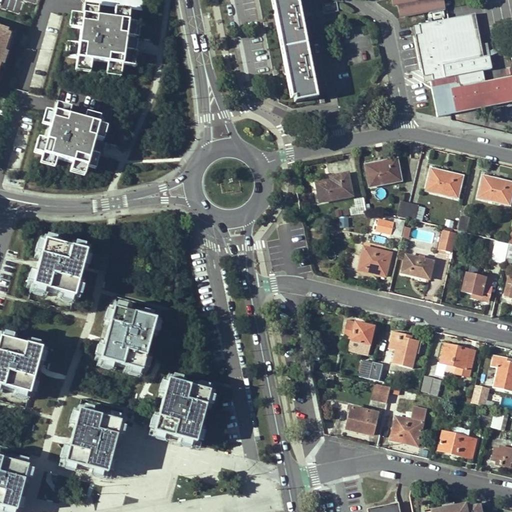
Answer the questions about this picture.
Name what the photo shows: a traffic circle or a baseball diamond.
traffic circle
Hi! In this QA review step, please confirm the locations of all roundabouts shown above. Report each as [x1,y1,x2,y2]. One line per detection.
[203,158,254,209]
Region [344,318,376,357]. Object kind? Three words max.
house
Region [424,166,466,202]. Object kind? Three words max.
house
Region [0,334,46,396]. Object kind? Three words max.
building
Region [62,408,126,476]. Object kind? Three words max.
building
